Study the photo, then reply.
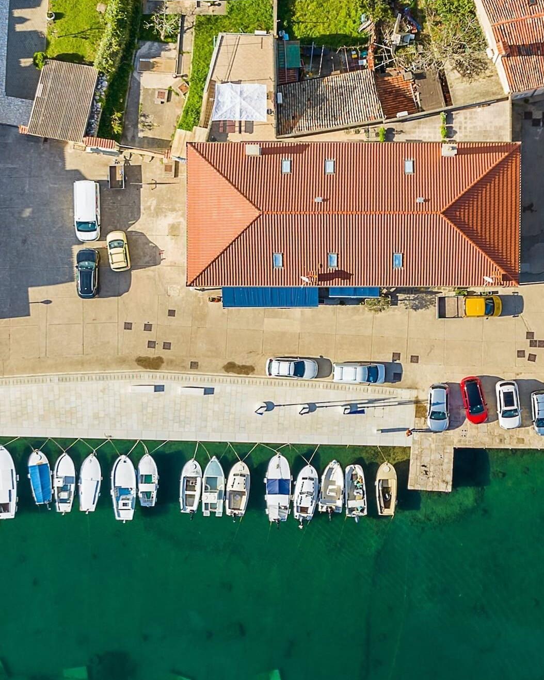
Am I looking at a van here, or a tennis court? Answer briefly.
van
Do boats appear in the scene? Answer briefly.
Yes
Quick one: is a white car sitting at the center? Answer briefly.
Yes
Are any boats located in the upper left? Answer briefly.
No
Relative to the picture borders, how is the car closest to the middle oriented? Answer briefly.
from left to right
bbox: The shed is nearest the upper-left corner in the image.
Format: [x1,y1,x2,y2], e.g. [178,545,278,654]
[29,60,101,143]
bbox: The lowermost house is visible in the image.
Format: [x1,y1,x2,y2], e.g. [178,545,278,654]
[185,140,522,309]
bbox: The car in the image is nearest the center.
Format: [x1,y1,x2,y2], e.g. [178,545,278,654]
[266,356,318,381]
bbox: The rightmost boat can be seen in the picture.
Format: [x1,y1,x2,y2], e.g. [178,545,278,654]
[374,462,398,515]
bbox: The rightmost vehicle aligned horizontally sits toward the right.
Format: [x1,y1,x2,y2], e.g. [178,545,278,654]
[437,295,501,320]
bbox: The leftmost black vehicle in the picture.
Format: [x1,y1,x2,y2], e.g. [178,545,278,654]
[73,248,100,299]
